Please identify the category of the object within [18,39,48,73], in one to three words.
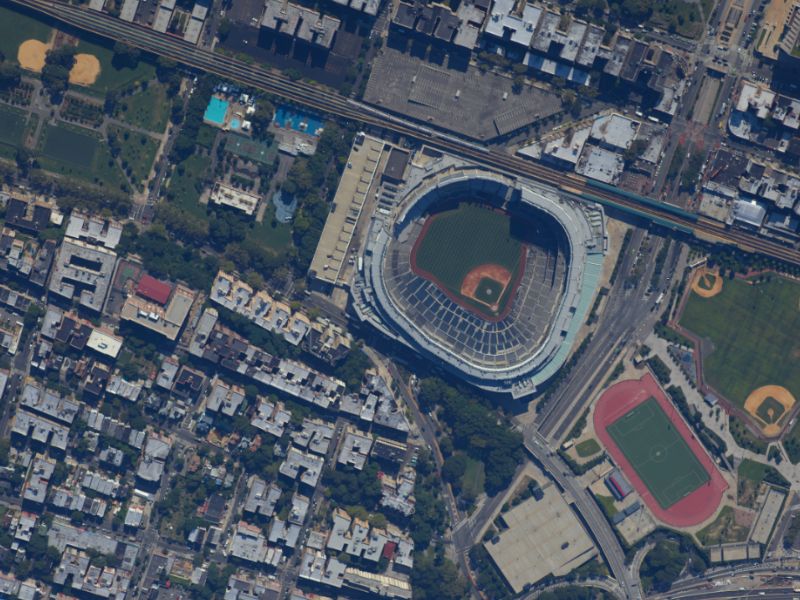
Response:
baseball field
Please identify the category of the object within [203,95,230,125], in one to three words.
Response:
swimming pool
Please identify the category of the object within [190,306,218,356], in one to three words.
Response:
building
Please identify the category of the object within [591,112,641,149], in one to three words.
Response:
building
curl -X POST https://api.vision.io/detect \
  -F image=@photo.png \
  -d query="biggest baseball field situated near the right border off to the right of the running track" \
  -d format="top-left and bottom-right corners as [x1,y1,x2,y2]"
[744,385,797,438]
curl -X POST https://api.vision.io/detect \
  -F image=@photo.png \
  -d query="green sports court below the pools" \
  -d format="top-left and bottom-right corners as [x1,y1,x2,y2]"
[224,135,278,162]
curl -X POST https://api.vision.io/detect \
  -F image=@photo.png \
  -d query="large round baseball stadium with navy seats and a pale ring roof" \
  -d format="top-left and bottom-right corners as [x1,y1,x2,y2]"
[350,144,604,398]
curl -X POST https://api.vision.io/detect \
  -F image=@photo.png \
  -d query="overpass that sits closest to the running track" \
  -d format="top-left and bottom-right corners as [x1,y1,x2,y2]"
[513,427,630,600]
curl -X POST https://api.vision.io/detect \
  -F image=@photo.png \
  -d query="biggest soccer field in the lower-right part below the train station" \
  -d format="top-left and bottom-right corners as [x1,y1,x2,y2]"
[608,397,710,509]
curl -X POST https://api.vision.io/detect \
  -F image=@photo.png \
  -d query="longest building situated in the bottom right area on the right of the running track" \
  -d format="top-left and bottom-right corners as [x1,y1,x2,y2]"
[751,488,786,545]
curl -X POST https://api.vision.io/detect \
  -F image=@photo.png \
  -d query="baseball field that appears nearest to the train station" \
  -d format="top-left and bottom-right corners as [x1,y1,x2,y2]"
[692,267,723,298]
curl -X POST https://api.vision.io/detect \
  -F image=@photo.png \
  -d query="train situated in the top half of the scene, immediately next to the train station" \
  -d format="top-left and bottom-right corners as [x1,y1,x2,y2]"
[346,99,491,152]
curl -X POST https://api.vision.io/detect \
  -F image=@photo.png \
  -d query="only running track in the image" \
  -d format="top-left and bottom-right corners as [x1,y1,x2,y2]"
[594,373,729,518]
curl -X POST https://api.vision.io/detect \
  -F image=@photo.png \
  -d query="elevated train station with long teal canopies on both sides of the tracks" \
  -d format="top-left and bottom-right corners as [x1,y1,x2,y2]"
[559,166,759,252]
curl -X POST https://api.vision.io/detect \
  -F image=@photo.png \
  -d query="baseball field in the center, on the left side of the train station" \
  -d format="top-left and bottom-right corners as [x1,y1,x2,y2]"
[411,202,526,322]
